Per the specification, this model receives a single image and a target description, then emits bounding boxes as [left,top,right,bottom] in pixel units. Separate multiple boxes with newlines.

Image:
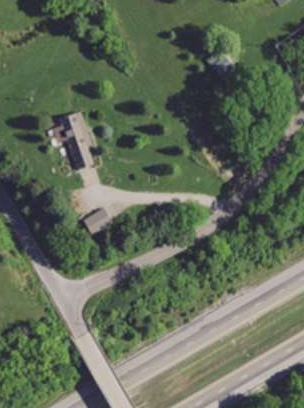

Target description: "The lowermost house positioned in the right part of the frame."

[204,54,236,83]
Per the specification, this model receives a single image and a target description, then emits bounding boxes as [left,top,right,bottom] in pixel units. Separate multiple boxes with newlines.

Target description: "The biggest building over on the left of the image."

[56,113,94,170]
